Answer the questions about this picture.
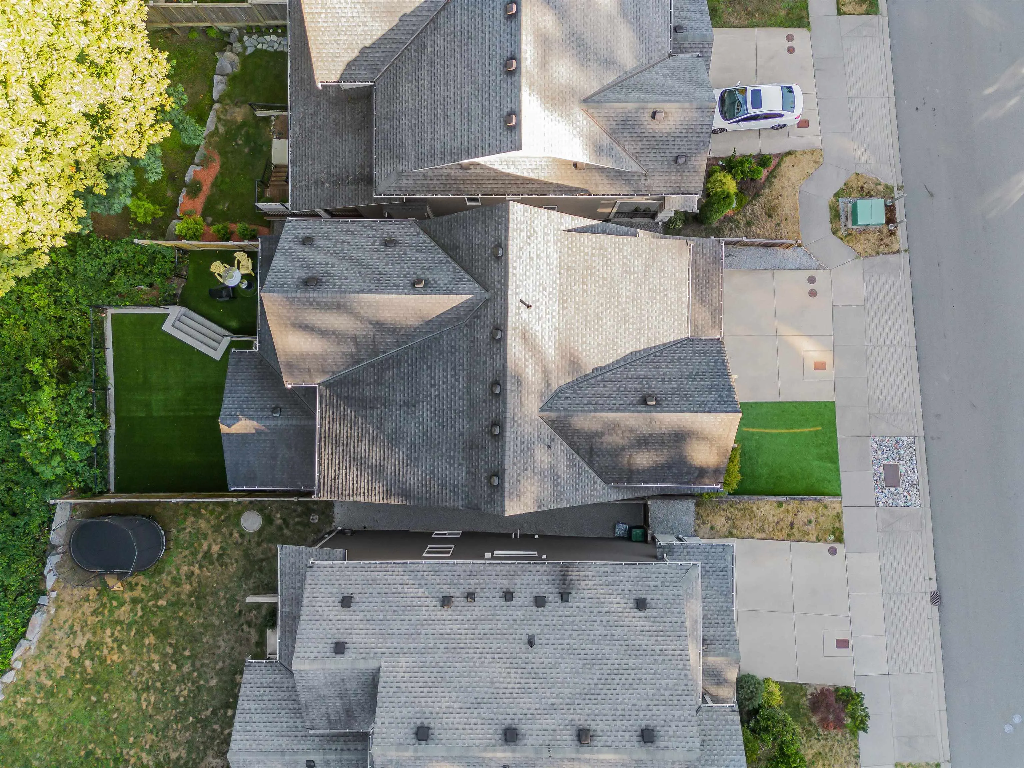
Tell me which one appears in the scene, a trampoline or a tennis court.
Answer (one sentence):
It is a trampoline that can be seen here.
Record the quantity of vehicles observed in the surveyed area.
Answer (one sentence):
In total, 1 vehicle can be seen.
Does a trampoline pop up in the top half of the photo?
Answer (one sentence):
No, no trampoline can be made out in the top half of the photo.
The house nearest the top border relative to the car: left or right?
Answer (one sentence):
Compared with the car, the house nearest the top border is located further to the left.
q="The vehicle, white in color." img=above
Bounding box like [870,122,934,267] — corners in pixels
[711,81,804,135]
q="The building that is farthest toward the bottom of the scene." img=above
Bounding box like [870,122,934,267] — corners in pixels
[228,516,744,768]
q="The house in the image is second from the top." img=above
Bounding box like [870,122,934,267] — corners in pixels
[218,200,742,517]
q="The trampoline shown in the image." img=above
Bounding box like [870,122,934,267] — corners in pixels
[46,513,173,588]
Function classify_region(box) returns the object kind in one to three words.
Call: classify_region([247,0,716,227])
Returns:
house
